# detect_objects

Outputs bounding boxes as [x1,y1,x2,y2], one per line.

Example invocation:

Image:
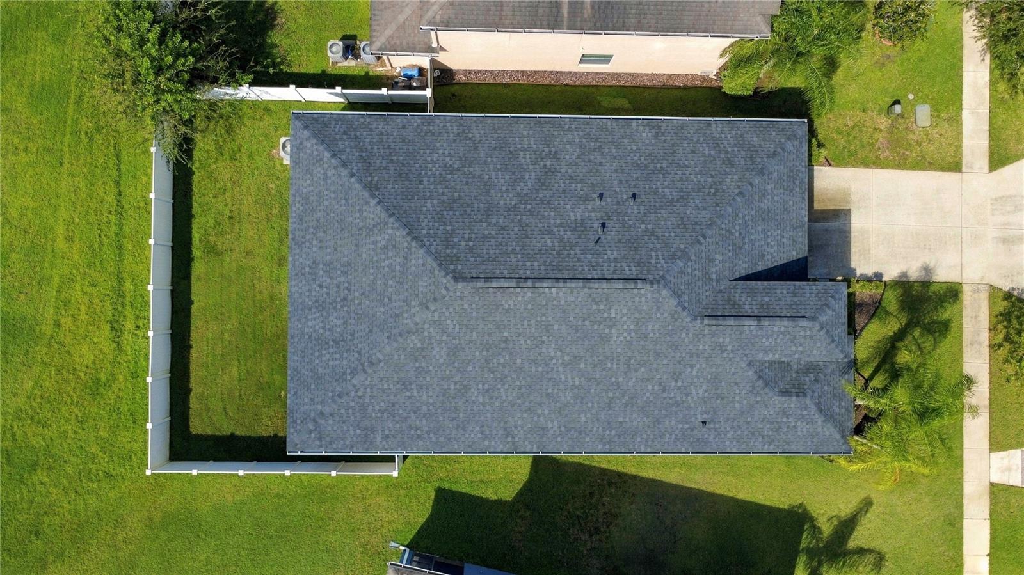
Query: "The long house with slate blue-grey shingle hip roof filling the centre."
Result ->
[284,110,855,456]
